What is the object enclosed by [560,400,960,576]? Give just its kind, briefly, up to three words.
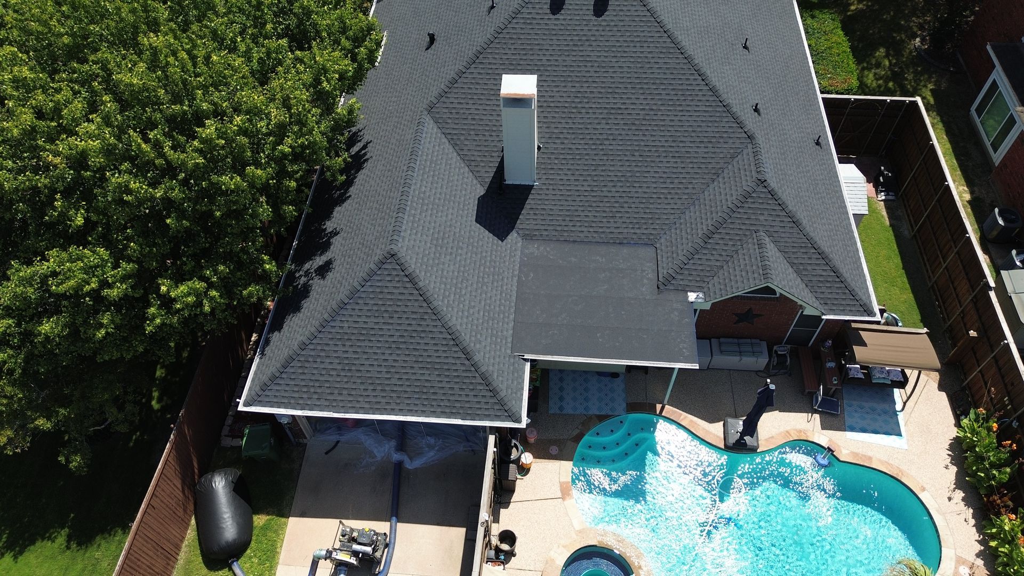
swimming pool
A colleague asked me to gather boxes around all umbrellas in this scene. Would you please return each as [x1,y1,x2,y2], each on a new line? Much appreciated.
[724,379,783,449]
